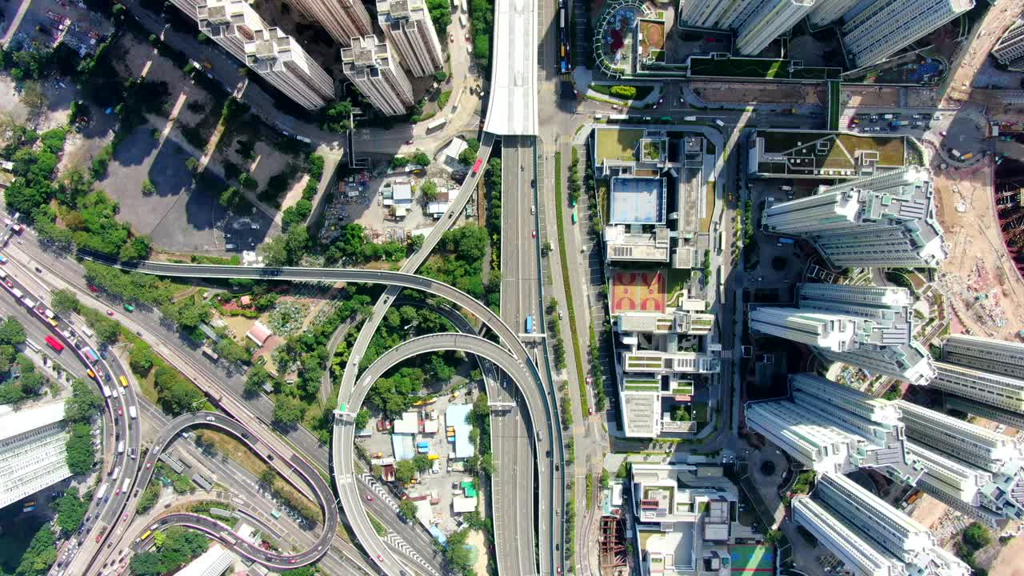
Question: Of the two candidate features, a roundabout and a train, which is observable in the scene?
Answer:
roundabout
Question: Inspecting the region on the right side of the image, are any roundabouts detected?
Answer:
Yes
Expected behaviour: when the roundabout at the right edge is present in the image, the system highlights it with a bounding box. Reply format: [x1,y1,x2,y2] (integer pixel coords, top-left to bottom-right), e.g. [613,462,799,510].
[936,111,993,168]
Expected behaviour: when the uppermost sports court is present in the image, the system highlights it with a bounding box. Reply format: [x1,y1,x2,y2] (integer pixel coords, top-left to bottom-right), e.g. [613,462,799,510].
[614,178,657,223]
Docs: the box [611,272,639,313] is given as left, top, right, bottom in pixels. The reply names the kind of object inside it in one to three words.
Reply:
basketball court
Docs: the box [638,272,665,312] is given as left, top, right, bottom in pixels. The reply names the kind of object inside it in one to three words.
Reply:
basketball court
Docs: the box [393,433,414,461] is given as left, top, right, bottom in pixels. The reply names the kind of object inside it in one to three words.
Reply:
shed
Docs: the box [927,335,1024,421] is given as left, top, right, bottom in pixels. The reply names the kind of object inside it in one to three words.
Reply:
building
